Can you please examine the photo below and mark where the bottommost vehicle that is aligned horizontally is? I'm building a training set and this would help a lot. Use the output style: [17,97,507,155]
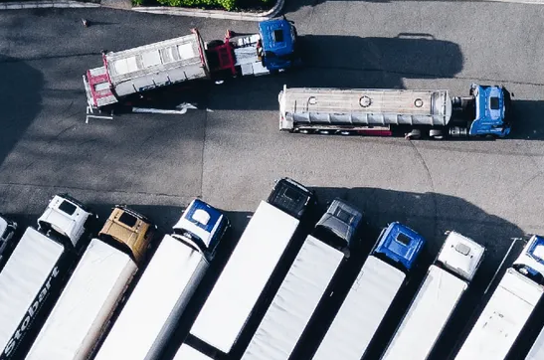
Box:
[275,80,508,143]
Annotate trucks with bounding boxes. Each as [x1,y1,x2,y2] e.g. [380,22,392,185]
[0,190,97,360]
[78,15,306,128]
[312,217,433,360]
[0,215,26,275]
[174,172,323,360]
[240,193,374,360]
[275,80,508,143]
[455,231,544,360]
[378,229,493,360]
[96,194,235,360]
[25,202,160,360]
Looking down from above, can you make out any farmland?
No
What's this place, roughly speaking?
parking lot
